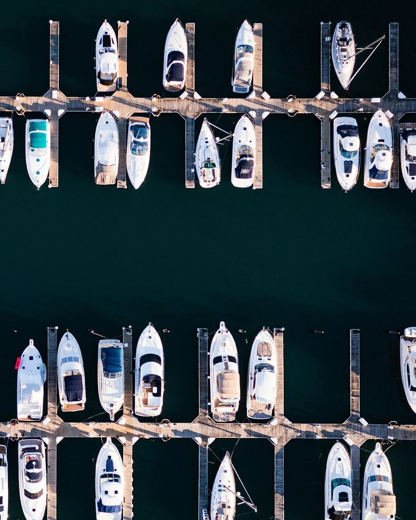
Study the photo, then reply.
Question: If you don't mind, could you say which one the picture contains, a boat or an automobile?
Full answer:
Of the two, only a boat appears.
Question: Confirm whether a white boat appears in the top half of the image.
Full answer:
Yes, a white boat can be seen in the top half of the image.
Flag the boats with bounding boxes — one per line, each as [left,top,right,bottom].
[331,117,360,193]
[404,327,416,337]
[322,442,353,520]
[211,452,257,520]
[232,18,256,93]
[0,117,15,184]
[17,339,45,421]
[0,445,8,520]
[359,442,396,520]
[19,439,47,520]
[57,330,86,411]
[25,119,51,188]
[397,122,416,191]
[126,116,150,190]
[363,107,395,189]
[95,111,119,184]
[245,329,278,419]
[209,321,240,422]
[163,18,189,92]
[332,21,387,91]
[97,339,125,422]
[195,116,233,188]
[95,20,117,92]
[392,336,416,413]
[135,322,165,415]
[94,436,124,520]
[231,113,257,187]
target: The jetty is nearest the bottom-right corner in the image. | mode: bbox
[343,439,369,520]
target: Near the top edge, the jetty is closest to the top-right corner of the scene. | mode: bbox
[381,22,400,98]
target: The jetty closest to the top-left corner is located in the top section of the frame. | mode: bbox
[42,19,68,96]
